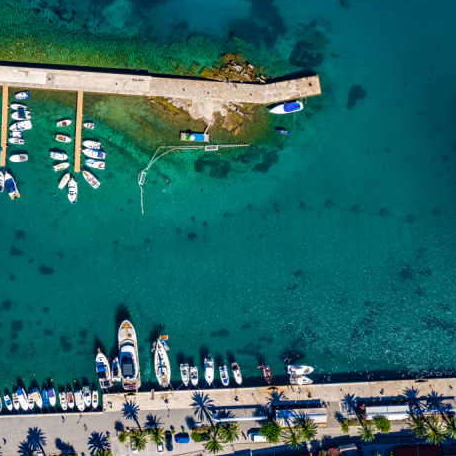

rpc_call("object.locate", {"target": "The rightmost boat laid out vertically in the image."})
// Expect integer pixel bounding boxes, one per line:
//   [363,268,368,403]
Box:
[262,358,274,384]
